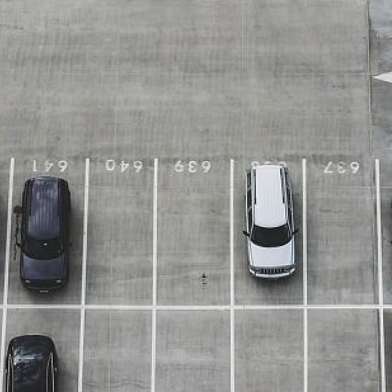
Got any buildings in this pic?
No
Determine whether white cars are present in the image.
Yes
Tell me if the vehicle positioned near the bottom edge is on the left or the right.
left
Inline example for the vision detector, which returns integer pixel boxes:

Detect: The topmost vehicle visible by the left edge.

[15,176,72,291]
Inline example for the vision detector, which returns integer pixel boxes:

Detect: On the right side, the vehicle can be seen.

[243,164,299,278]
